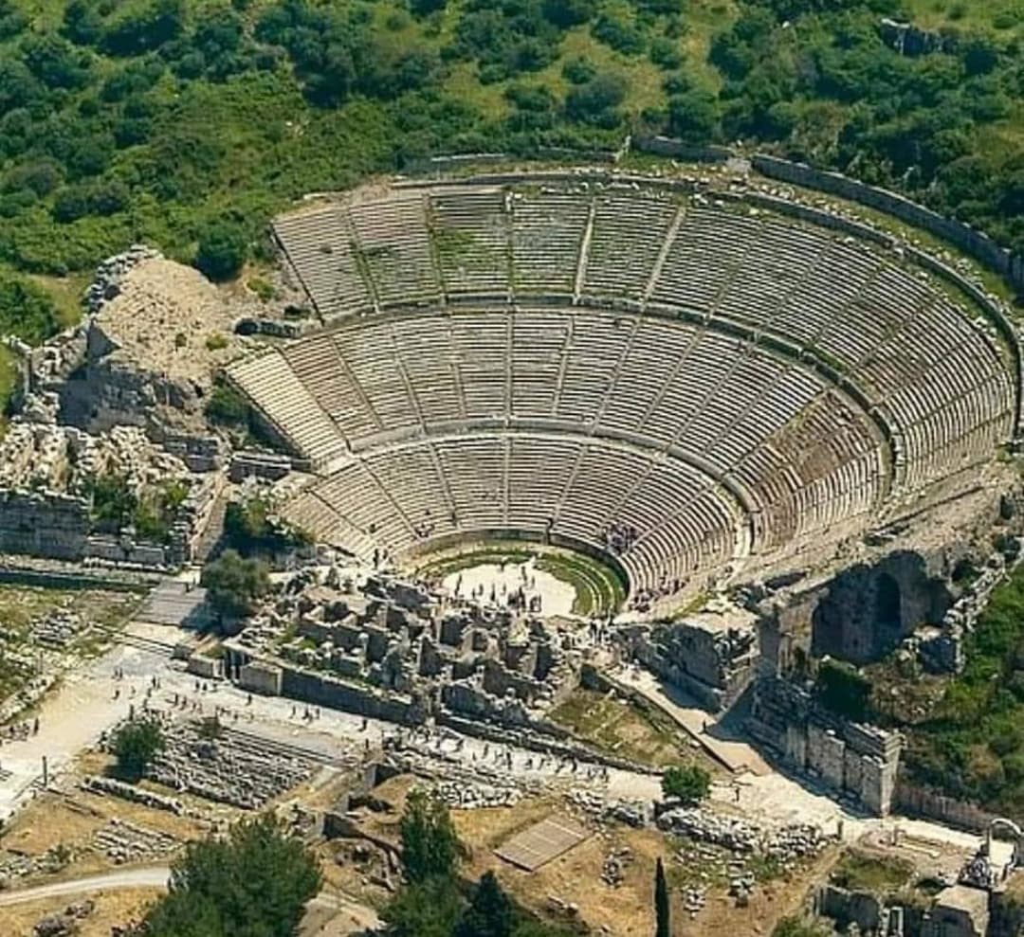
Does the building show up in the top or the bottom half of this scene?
bottom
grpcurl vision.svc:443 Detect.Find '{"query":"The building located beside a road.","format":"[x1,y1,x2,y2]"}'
[236,581,573,746]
